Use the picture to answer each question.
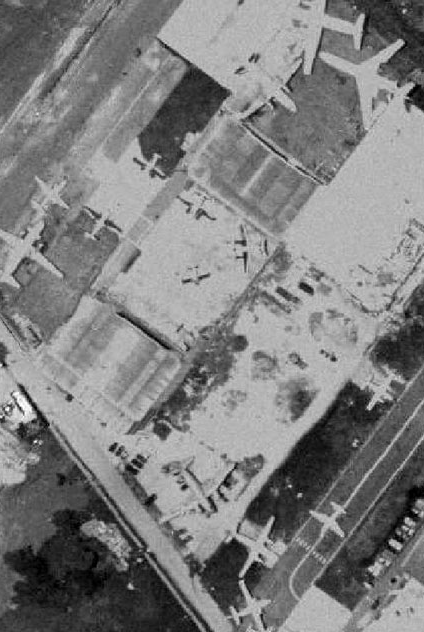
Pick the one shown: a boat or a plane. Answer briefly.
plane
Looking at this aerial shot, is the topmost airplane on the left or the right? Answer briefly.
right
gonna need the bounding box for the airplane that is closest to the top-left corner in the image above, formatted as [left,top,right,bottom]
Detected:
[29,175,70,216]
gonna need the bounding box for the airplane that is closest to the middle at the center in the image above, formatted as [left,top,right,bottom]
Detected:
[181,265,211,286]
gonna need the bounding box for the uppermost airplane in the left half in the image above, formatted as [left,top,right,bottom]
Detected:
[133,152,167,180]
